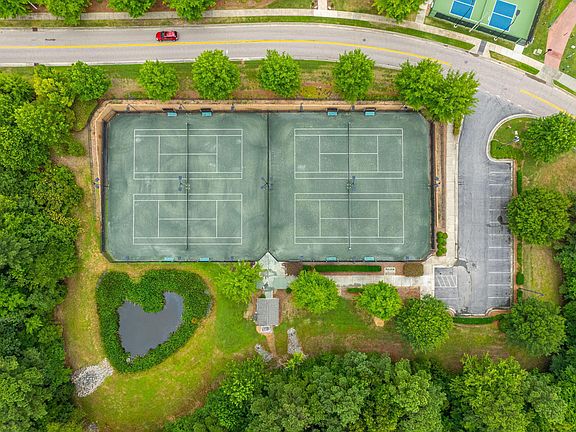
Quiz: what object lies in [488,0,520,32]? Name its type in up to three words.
sports court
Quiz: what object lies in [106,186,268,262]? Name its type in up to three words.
tennis court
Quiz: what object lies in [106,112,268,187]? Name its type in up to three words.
tennis court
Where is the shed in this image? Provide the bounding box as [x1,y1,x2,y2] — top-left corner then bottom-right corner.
[257,298,280,326]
